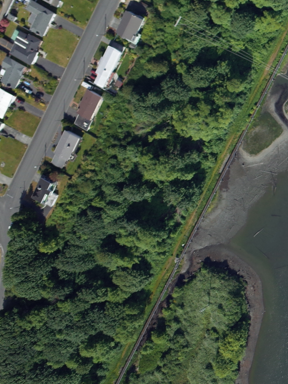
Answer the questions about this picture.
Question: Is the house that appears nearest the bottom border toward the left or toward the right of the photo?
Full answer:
The house that appears nearest the bottom border appears in the left half of the scene.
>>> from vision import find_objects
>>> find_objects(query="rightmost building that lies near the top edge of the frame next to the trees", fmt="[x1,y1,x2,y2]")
[117,9,147,45]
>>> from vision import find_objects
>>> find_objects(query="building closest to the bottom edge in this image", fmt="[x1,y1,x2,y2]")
[31,176,62,207]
